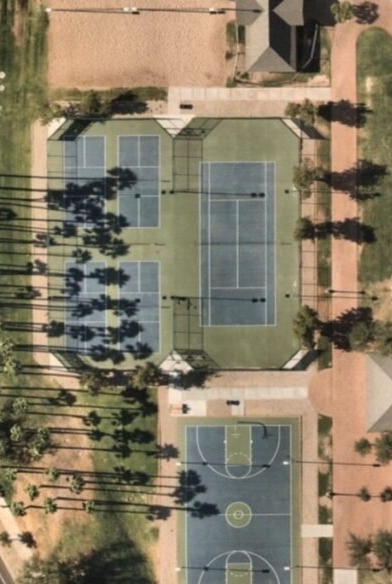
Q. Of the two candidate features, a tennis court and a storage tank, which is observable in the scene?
tennis court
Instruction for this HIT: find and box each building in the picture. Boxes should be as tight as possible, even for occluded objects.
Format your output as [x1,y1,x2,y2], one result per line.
[366,352,392,432]
[235,0,303,72]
